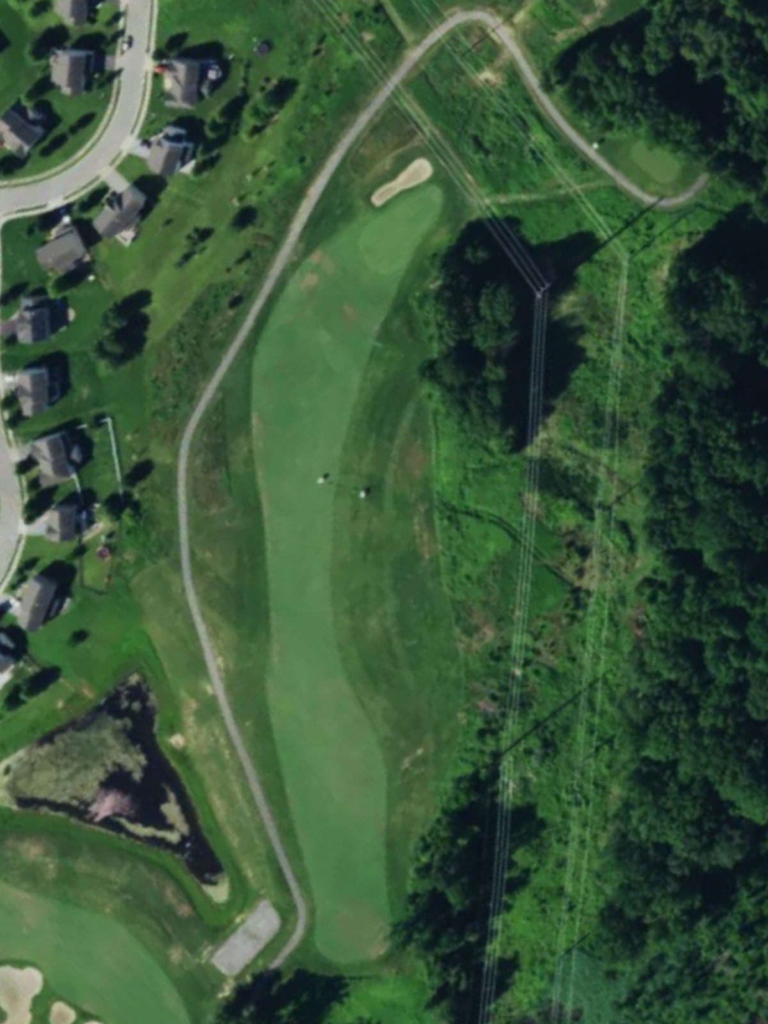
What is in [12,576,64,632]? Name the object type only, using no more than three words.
house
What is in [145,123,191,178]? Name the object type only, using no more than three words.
house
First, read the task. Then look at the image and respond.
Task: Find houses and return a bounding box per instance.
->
[90,177,151,244]
[145,123,191,178]
[14,369,59,418]
[0,105,41,158]
[35,218,92,278]
[27,433,78,486]
[43,504,86,543]
[12,576,64,632]
[47,0,90,26]
[0,637,20,678]
[18,295,52,346]
[50,49,92,94]
[160,59,211,108]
